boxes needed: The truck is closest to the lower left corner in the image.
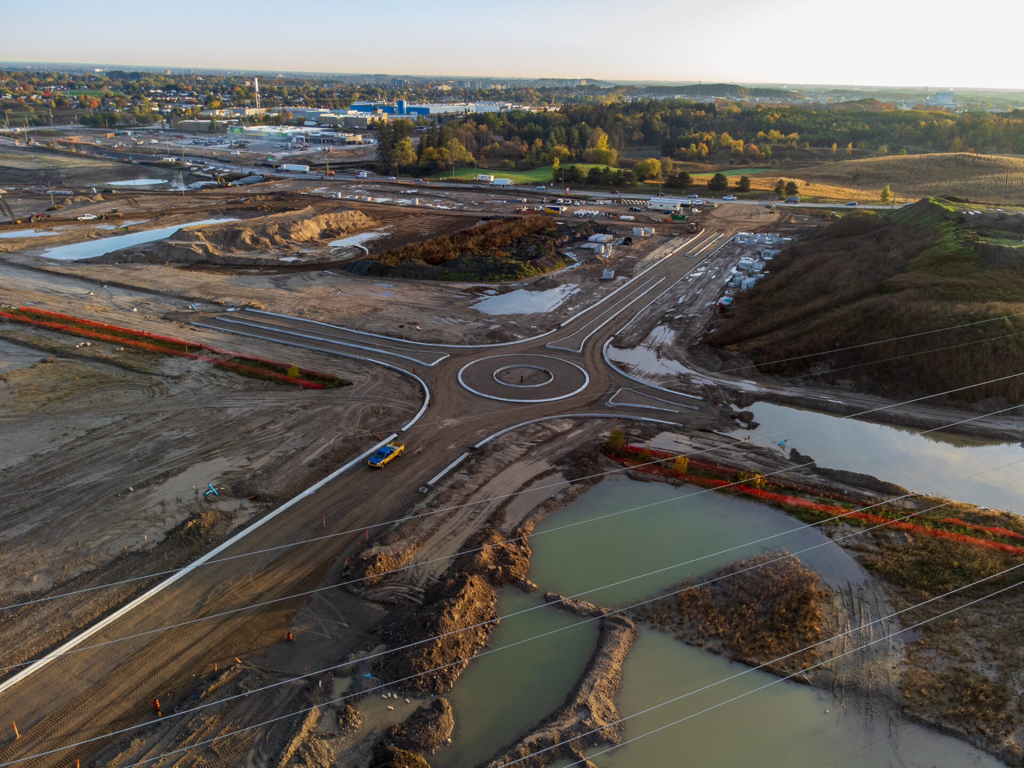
[365,439,406,466]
